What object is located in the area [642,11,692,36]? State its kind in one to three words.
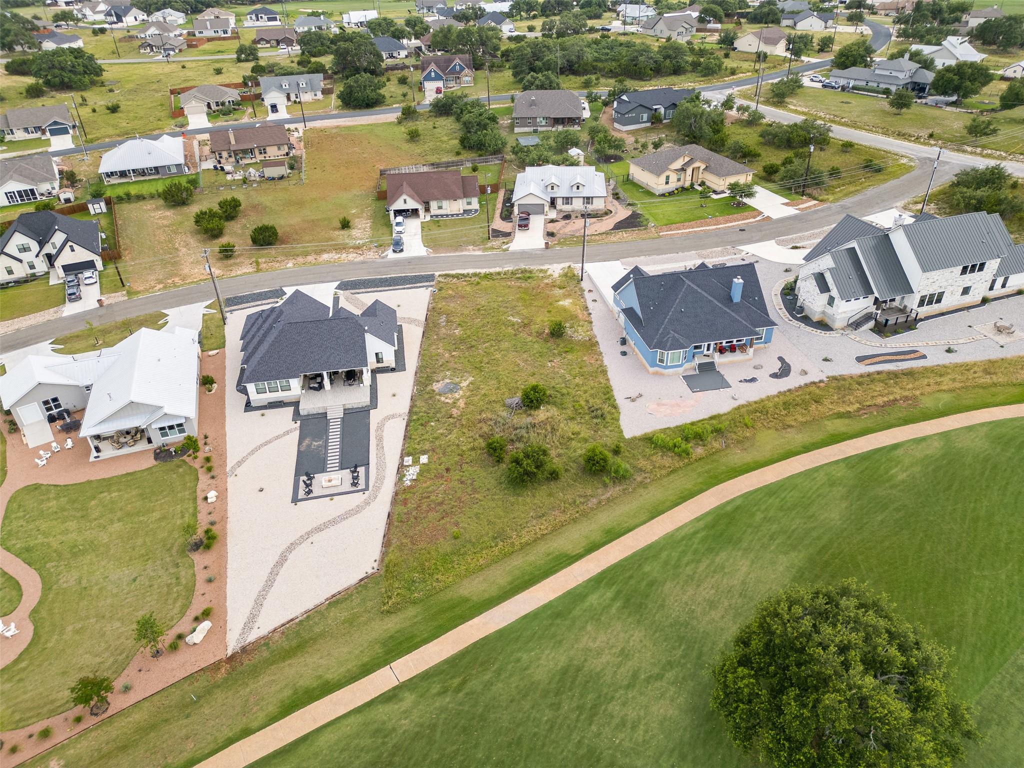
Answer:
house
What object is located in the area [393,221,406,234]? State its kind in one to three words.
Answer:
vehicle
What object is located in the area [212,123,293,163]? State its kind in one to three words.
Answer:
house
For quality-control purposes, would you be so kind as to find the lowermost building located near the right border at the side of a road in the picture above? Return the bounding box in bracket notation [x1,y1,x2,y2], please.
[792,206,1024,333]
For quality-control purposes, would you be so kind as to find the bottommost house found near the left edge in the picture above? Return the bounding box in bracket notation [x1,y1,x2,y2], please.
[7,319,204,461]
